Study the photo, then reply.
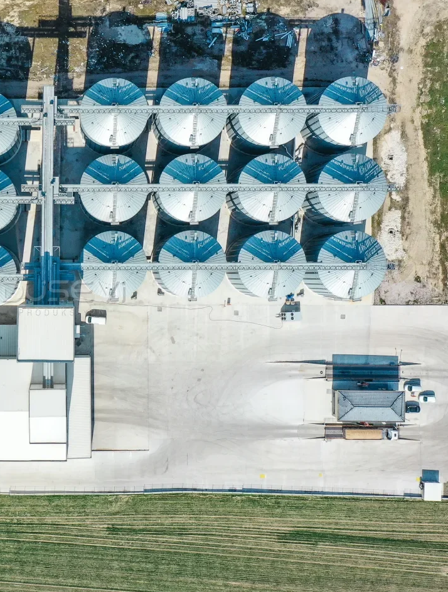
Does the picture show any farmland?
Yes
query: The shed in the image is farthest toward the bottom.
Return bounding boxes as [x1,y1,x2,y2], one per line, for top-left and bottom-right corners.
[421,481,442,500]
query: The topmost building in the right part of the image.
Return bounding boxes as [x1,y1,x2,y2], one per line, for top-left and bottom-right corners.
[333,390,407,423]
